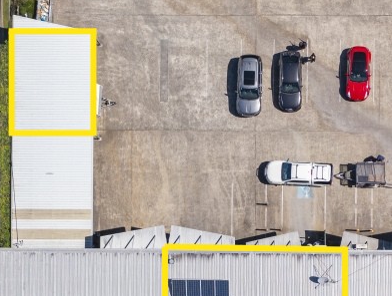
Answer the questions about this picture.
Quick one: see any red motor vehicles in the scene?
Yes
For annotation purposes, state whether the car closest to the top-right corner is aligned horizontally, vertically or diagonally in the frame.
vertically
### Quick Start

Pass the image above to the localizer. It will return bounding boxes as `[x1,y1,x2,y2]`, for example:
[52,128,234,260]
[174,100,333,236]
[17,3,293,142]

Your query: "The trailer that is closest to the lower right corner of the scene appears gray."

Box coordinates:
[332,159,385,188]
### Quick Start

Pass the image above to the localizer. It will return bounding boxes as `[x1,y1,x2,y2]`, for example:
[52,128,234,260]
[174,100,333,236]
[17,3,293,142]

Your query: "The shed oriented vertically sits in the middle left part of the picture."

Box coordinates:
[12,15,94,248]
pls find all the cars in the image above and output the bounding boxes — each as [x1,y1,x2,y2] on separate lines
[345,43,374,101]
[276,48,305,111]
[264,158,333,186]
[233,53,263,116]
